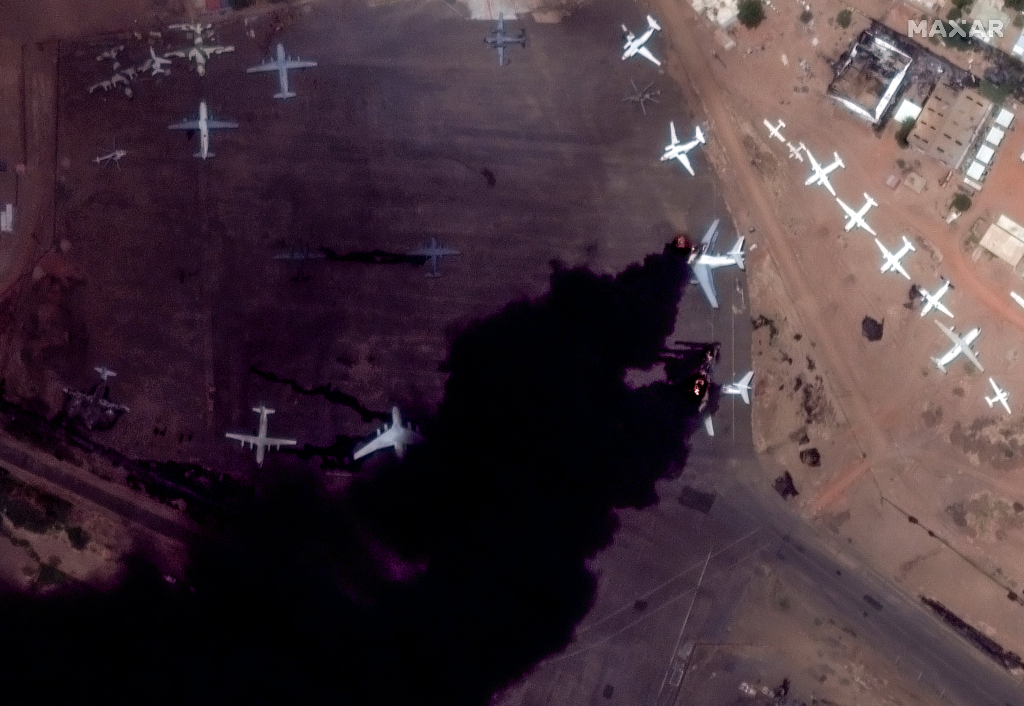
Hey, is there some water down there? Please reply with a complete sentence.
No, water can't be seen anywhere here.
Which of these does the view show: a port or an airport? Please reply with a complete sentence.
This image shows an airport.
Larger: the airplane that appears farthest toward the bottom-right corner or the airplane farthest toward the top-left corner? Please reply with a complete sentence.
Compared with the airplane that appears farthest toward the bottom-right corner, the airplane farthest toward the top-left corner is the larger one.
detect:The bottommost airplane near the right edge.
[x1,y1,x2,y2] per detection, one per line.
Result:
[985,378,1011,414]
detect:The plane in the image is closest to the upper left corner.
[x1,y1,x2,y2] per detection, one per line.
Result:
[90,45,153,98]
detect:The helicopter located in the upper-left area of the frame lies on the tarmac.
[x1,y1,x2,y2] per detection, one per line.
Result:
[92,137,129,171]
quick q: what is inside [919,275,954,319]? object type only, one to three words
airplane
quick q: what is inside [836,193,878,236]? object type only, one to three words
airplane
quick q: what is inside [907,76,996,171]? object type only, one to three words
shed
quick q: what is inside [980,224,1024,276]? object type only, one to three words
building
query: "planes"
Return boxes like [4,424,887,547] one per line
[919,275,954,319]
[247,44,317,99]
[90,45,153,98]
[165,18,234,76]
[687,220,747,307]
[661,122,706,176]
[169,101,239,159]
[787,142,806,162]
[355,407,444,491]
[806,150,846,196]
[153,53,172,75]
[485,13,525,67]
[622,14,661,65]
[764,120,785,141]
[875,236,916,280]
[273,239,326,281]
[836,193,878,236]
[930,320,985,373]
[408,237,461,276]
[985,378,1011,414]
[226,403,296,466]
